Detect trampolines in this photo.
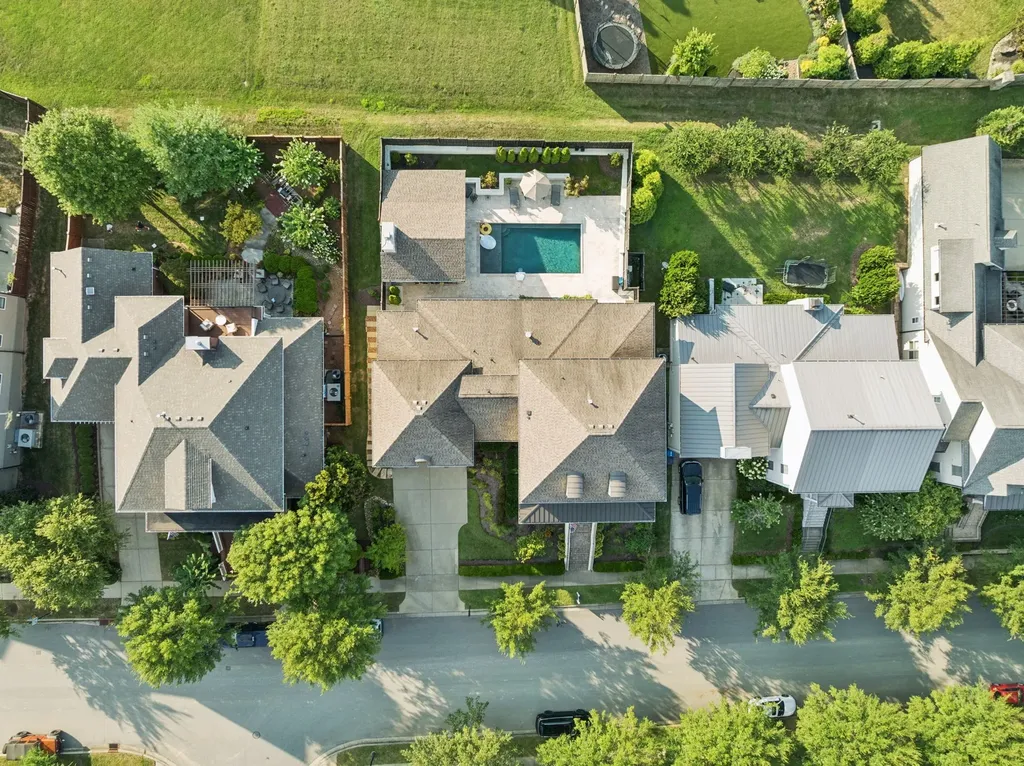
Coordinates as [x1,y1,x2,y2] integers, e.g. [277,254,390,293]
[774,254,841,287]
[592,15,640,72]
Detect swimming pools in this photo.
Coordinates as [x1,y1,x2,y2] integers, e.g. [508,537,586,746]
[476,221,584,275]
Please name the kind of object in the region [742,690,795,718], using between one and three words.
car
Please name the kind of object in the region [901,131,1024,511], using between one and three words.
house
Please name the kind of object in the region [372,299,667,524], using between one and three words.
house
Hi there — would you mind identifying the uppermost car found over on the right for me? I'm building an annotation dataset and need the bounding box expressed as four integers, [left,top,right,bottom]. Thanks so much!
[678,458,706,517]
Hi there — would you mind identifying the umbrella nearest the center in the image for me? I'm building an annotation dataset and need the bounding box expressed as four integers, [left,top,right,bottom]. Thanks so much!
[520,163,552,196]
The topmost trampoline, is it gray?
Yes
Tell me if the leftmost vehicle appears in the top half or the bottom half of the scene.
bottom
